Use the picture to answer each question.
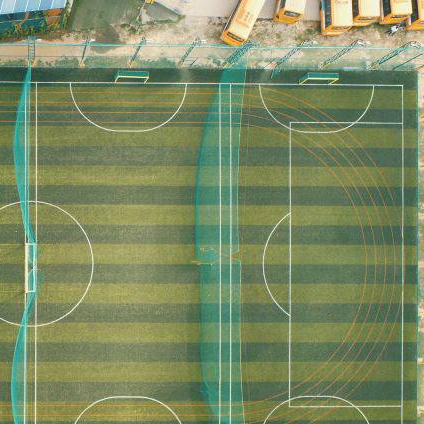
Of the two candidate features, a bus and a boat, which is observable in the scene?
bus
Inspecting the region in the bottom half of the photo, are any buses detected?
No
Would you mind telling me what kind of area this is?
sports ground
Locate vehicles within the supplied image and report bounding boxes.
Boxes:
[321,0,353,37]
[406,0,424,31]
[220,0,264,50]
[350,0,380,27]
[380,0,413,24]
[276,0,307,25]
